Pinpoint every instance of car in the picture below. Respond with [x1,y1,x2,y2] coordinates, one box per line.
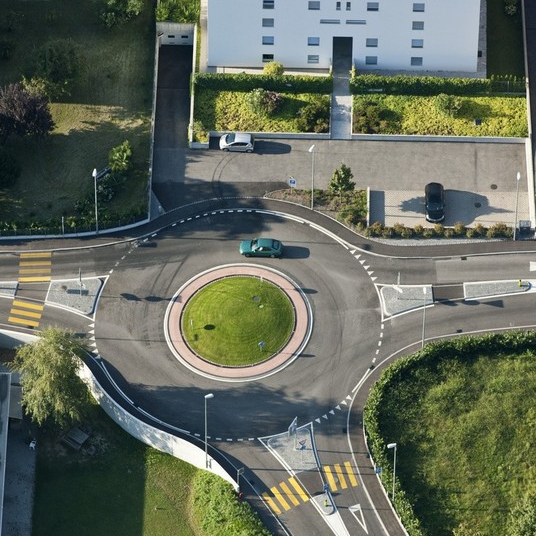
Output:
[240,237,283,257]
[220,132,254,153]
[424,182,446,222]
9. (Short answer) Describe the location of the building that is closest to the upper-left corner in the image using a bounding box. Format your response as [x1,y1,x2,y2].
[158,21,193,44]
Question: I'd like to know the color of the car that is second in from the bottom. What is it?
black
